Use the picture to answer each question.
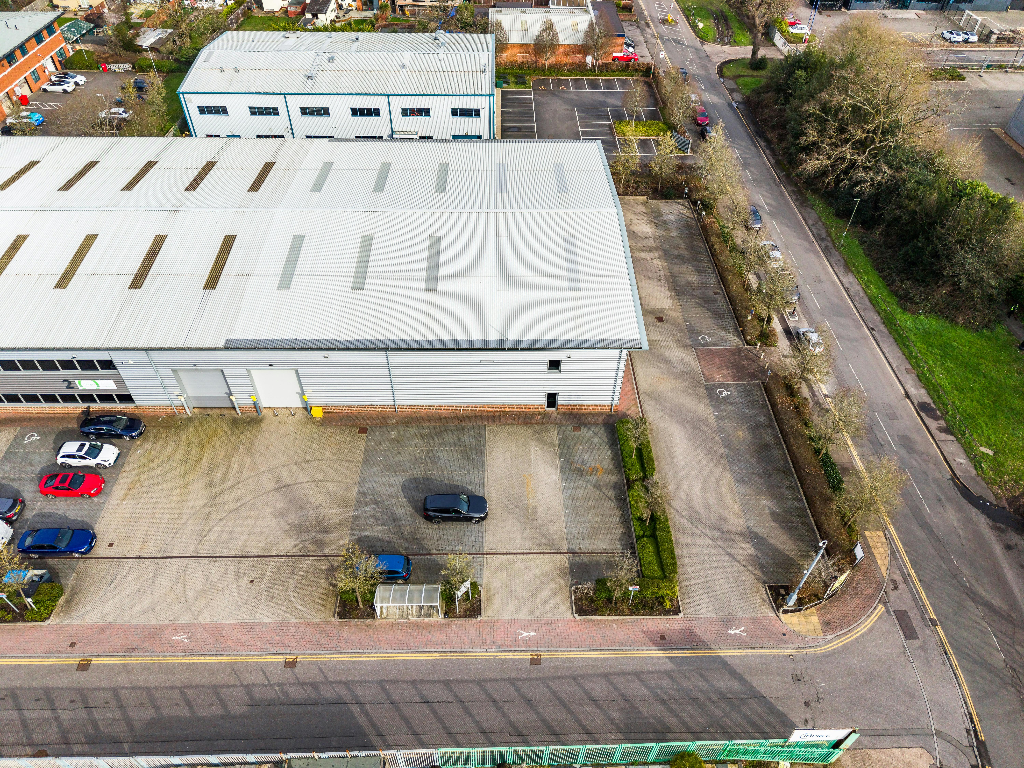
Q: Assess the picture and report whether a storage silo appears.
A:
No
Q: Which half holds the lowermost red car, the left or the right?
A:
left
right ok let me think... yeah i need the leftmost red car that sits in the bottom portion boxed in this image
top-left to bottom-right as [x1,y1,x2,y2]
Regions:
[38,469,107,497]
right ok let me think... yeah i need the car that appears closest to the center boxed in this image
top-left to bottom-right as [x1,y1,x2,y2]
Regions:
[422,490,489,523]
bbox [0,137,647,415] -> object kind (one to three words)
warehouse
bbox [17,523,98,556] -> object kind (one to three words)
car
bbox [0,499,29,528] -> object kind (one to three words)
car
